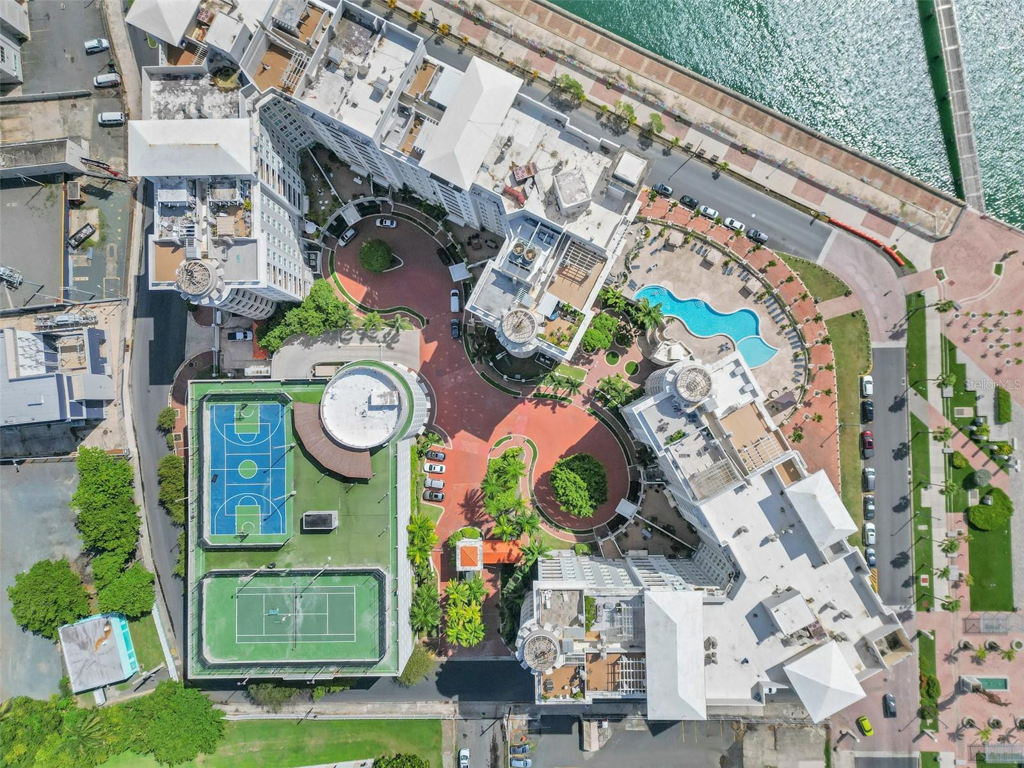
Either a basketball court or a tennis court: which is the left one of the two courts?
basketball court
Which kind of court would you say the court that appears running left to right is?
tennis court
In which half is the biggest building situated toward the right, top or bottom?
bottom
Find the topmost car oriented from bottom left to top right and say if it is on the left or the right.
left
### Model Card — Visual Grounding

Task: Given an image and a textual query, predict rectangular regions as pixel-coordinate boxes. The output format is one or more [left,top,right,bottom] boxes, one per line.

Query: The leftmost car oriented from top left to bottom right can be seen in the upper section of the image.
[435,244,452,266]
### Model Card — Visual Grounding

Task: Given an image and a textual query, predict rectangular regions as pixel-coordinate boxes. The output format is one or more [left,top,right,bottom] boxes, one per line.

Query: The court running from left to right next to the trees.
[204,576,382,663]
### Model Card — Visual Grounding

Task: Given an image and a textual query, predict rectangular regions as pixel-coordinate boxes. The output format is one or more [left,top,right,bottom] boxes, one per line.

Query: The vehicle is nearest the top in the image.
[82,37,107,51]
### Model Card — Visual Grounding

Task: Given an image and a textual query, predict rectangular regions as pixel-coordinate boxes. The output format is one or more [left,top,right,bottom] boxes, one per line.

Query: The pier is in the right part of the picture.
[925,0,984,212]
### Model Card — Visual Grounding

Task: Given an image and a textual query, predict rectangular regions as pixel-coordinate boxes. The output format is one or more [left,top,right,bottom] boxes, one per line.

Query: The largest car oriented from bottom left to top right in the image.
[336,226,356,246]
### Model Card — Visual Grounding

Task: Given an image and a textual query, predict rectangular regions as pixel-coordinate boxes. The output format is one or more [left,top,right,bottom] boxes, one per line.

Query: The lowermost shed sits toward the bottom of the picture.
[582,712,599,751]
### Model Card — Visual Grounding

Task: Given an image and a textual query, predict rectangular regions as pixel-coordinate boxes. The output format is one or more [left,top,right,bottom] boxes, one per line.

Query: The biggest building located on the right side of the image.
[508,348,915,722]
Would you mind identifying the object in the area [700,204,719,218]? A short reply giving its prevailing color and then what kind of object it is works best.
white car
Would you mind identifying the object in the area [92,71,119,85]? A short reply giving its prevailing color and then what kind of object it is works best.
white vehicle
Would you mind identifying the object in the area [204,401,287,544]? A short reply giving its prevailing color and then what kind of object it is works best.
blue basketball court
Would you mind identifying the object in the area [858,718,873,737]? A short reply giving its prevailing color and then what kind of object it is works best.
green car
